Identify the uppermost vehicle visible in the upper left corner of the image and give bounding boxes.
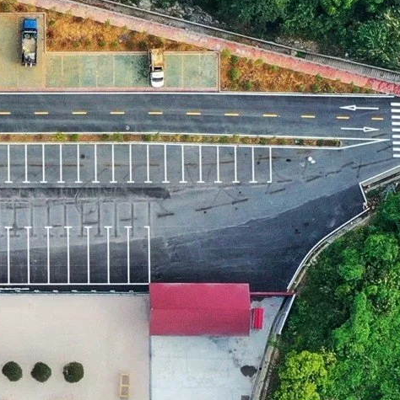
[24,17,40,64]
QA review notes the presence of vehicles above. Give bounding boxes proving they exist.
[151,46,167,86]
[24,17,40,64]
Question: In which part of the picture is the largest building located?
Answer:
bottom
